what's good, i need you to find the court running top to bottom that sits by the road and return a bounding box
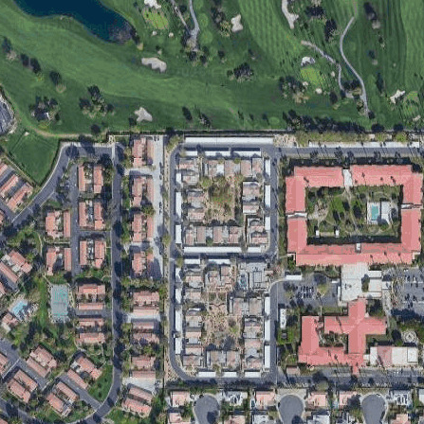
[51,283,69,322]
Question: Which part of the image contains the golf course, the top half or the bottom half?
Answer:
top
